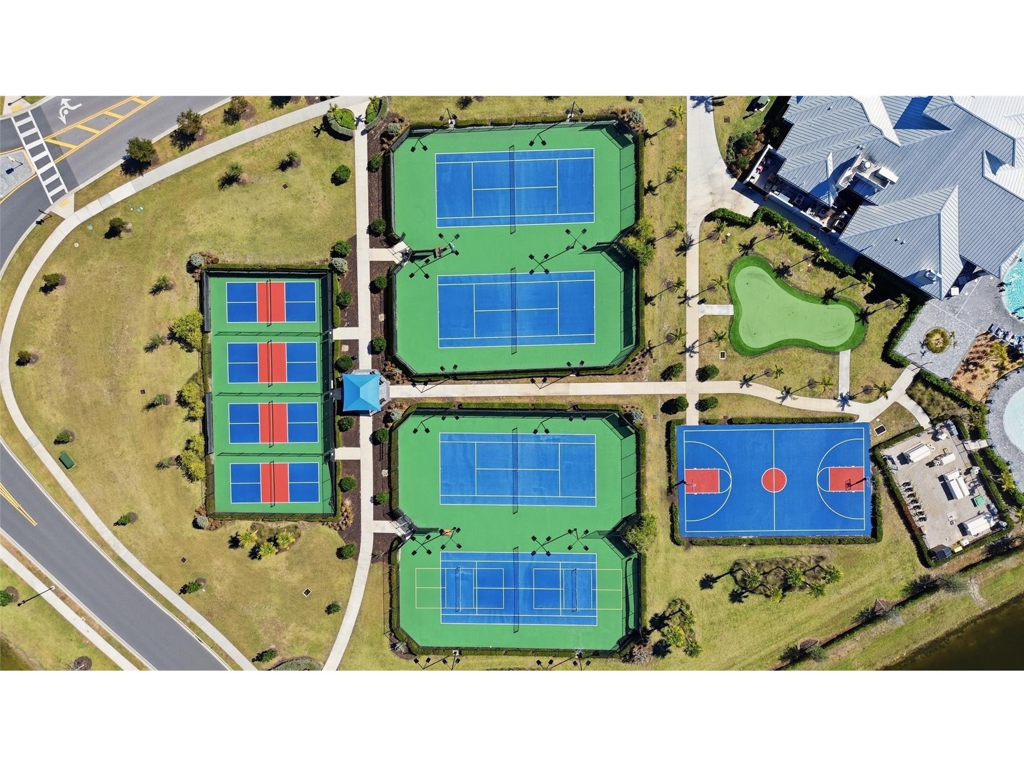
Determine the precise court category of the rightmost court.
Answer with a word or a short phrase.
basketball court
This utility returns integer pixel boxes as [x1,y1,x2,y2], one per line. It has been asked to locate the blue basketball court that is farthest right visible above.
[676,423,871,537]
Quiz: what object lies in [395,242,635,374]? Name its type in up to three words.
tennis court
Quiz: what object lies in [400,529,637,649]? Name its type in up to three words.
tennis court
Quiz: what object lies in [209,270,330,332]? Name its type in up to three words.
sports court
